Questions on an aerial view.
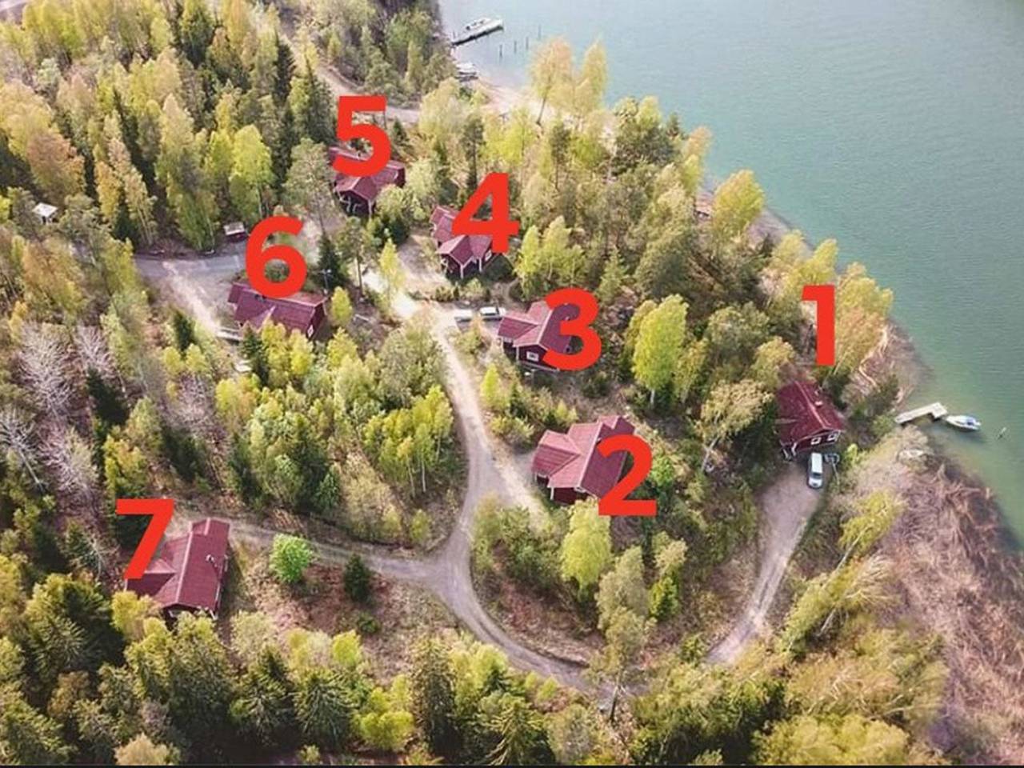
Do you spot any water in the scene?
Yes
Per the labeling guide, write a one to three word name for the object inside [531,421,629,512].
house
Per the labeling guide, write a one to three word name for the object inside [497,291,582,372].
house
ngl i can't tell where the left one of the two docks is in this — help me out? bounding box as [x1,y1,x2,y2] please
[446,22,506,46]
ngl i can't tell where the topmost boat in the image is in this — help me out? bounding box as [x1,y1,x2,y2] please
[467,19,487,32]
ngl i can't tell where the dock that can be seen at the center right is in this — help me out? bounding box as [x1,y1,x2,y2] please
[890,403,949,427]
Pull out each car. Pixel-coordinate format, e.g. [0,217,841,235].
[807,453,826,489]
[479,307,505,321]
